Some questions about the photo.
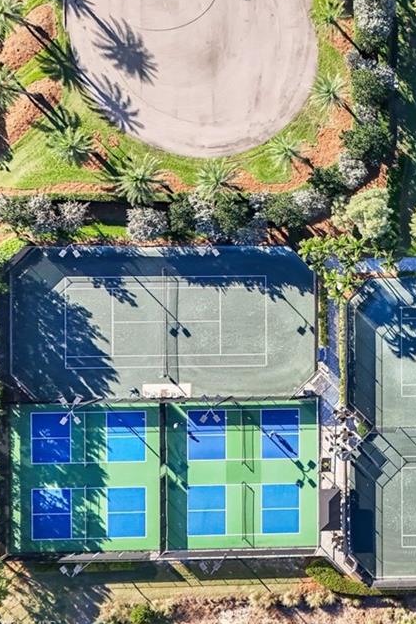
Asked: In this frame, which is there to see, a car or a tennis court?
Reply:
tennis court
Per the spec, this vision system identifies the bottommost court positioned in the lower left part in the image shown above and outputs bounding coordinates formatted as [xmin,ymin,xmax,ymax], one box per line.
[9,475,156,553]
